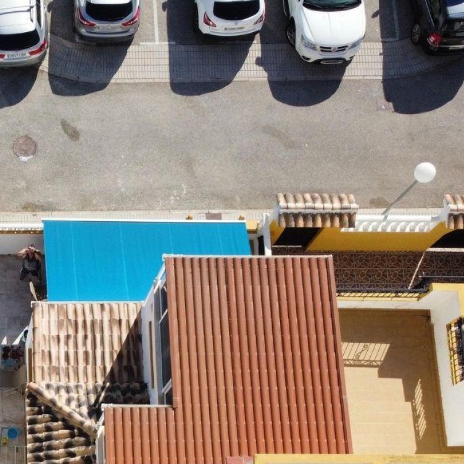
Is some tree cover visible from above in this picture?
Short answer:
No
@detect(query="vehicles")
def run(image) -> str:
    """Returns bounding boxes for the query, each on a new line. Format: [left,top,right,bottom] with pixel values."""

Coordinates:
[73,0,139,45]
[405,0,464,60]
[193,0,264,39]
[288,0,373,65]
[0,0,50,69]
